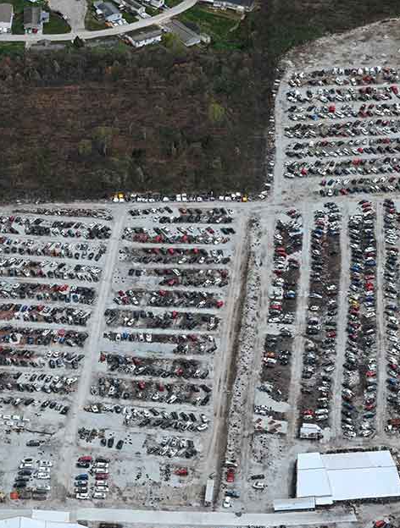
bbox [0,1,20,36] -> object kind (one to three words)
house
